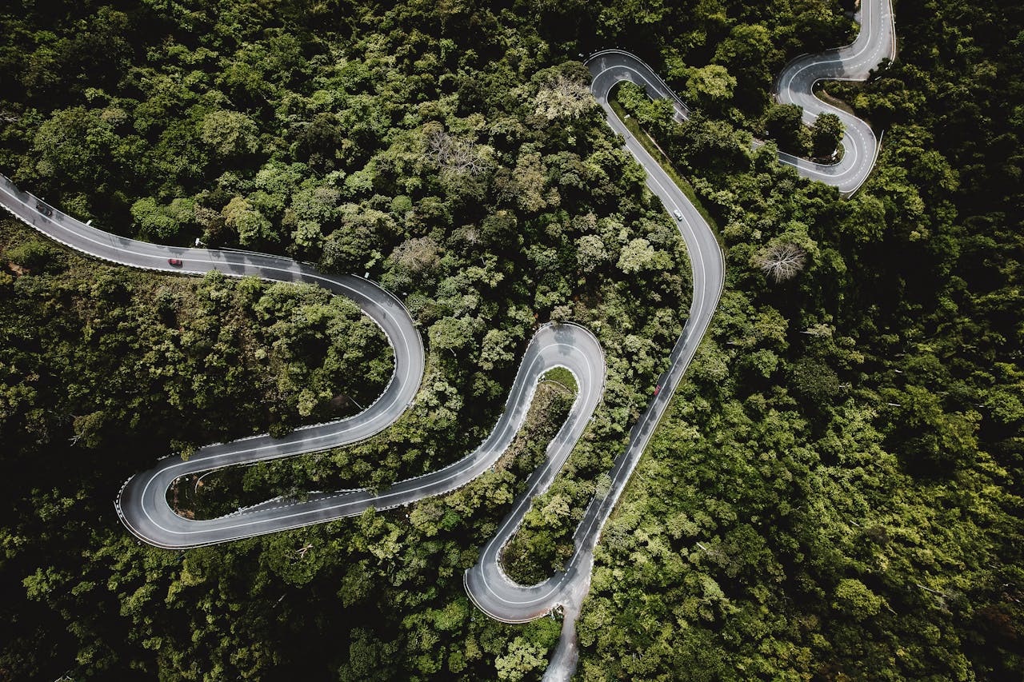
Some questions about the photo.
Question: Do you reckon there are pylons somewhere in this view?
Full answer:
No, there's no pylon here.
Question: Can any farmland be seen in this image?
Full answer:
No, the picture contains no farmland.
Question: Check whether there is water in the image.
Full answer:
No, there is no water in the image.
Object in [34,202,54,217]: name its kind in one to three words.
vehicle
